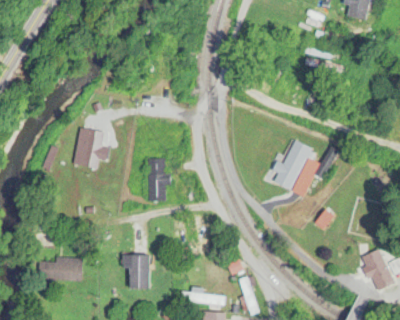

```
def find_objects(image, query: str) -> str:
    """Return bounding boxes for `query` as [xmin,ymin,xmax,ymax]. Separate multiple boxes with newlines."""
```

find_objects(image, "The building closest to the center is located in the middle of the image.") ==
[148,158,174,200]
